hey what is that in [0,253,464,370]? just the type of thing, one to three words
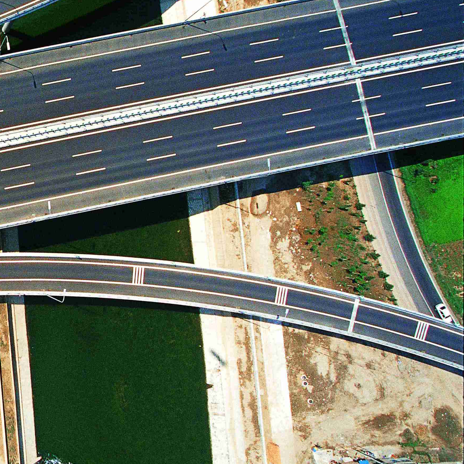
bridge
